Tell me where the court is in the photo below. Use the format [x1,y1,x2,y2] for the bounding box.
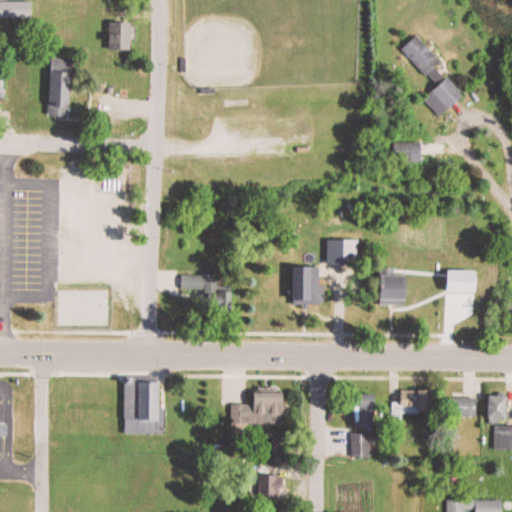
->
[56,283,112,329]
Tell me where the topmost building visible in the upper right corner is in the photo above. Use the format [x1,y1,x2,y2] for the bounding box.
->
[402,38,464,110]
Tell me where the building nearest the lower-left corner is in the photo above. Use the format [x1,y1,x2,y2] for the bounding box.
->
[124,376,164,434]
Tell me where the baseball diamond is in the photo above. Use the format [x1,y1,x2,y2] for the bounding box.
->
[184,0,356,88]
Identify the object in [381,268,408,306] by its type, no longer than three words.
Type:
house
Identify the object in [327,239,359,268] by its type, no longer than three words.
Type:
building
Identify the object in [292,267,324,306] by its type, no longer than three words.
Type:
house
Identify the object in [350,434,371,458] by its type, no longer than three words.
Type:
building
